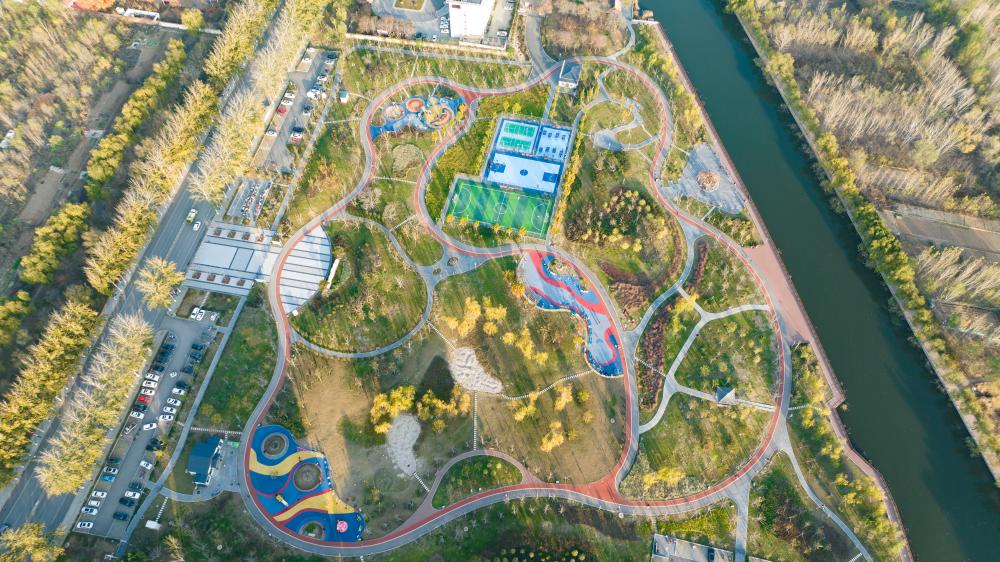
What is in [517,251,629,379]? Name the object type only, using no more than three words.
playground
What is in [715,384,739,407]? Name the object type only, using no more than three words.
building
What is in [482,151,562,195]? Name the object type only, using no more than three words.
basketball court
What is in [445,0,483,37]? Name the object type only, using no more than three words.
building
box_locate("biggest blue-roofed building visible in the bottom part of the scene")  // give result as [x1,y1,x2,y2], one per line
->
[188,435,226,487]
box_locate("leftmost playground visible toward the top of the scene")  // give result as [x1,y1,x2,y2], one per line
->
[373,96,463,139]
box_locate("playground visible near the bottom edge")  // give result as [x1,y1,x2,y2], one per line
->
[253,424,365,538]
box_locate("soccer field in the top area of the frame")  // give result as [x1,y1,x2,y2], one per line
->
[442,178,556,238]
